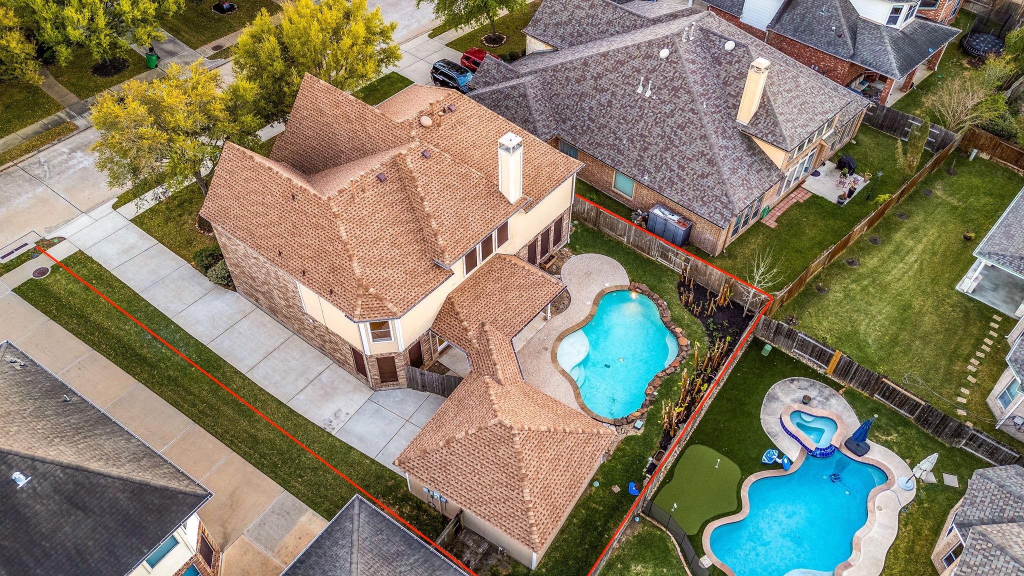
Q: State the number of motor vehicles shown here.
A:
2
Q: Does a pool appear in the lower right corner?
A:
Yes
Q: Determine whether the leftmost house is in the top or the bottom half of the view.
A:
bottom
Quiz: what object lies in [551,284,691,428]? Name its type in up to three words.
swimming pool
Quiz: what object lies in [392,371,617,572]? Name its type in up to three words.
building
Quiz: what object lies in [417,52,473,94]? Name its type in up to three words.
car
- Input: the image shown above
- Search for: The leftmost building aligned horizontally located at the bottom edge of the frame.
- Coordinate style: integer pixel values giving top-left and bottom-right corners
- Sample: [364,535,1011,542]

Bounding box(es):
[276,490,477,576]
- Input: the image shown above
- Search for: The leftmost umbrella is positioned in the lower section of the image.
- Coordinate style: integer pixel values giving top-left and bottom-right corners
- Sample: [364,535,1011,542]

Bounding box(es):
[843,414,878,457]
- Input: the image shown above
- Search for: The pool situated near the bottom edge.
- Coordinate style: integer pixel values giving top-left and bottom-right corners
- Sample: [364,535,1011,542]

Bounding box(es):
[703,404,895,576]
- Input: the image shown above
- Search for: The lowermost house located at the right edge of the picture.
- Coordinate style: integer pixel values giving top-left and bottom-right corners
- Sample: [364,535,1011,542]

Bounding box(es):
[932,467,1024,576]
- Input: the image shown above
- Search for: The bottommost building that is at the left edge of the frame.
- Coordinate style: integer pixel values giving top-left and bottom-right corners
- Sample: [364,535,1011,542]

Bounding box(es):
[0,340,224,576]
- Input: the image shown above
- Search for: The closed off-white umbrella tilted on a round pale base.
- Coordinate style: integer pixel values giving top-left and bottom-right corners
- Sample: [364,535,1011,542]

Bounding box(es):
[894,454,932,492]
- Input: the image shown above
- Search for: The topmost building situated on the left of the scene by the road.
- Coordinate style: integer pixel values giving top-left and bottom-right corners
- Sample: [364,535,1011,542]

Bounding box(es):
[198,72,587,392]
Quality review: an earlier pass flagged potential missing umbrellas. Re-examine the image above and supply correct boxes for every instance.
[843,414,878,457]
[894,454,932,492]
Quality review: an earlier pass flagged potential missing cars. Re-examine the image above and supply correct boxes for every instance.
[453,44,488,75]
[417,52,473,94]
